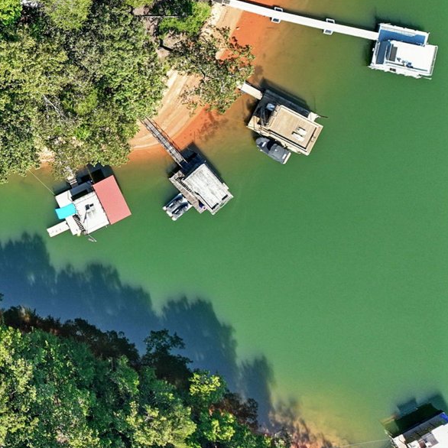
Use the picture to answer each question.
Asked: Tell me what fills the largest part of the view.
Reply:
water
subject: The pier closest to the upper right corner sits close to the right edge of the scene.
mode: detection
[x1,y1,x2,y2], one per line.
[370,22,442,81]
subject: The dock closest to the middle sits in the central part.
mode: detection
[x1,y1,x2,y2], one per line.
[168,154,233,216]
